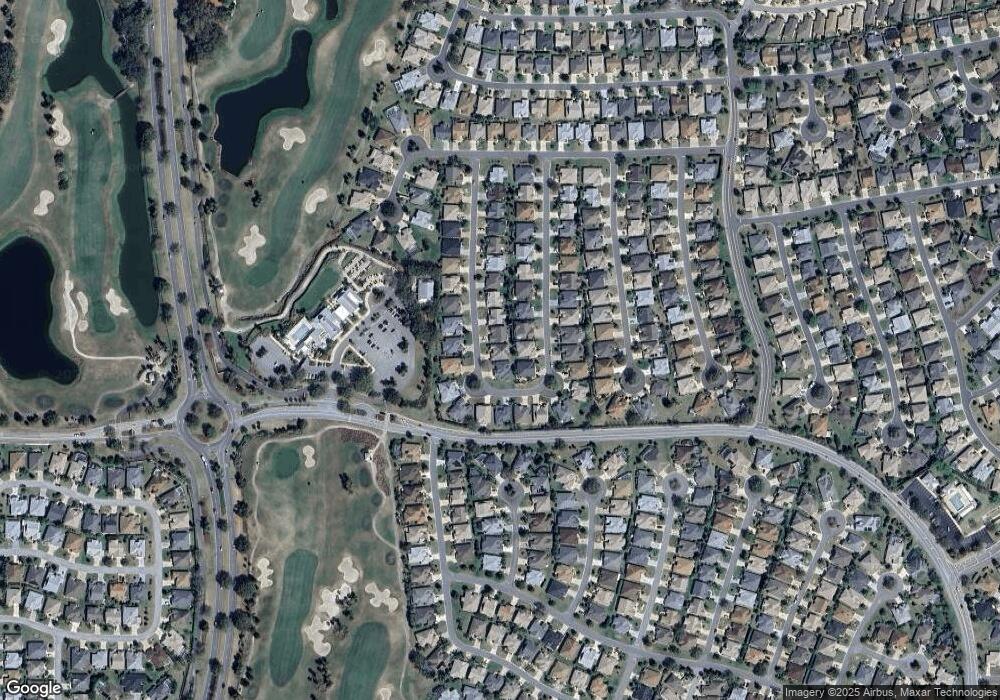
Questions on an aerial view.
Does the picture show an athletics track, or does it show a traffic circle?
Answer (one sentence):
Of the two, only a traffic circle appears.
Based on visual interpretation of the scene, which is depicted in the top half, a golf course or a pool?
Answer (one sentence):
The feature located in the top half is a golf course.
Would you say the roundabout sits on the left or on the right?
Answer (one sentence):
The roundabout sits on the left side.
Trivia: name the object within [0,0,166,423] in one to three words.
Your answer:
golf course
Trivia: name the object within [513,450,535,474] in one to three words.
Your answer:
house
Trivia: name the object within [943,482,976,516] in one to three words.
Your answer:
swimming pool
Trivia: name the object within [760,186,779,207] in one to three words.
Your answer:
house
